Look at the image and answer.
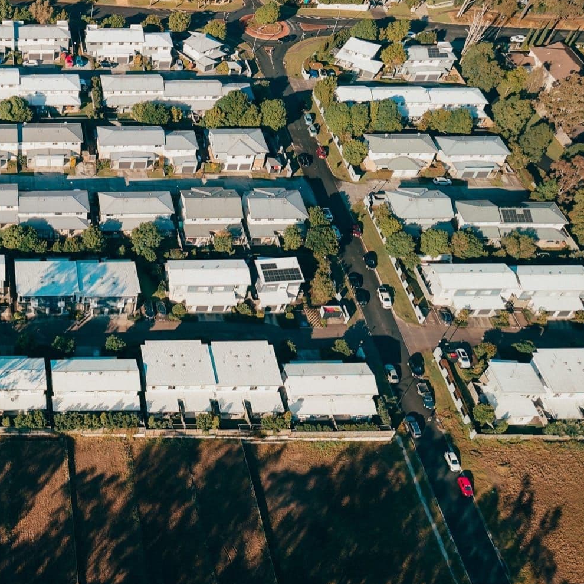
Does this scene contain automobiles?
Yes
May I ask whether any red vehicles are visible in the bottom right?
Yes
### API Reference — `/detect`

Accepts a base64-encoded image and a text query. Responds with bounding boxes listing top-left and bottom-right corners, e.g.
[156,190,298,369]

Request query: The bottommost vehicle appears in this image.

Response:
[455,473,476,499]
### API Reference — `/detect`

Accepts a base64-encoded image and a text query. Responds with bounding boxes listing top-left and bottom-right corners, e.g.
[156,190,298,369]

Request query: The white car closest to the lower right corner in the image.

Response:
[442,449,462,473]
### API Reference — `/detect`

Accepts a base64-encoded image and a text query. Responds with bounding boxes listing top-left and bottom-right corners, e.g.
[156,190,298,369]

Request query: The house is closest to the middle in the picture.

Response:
[251,258,306,312]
